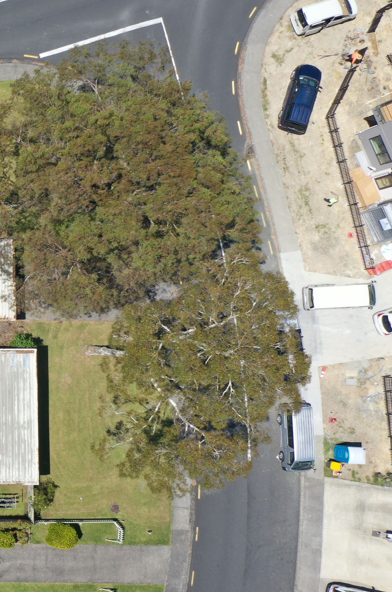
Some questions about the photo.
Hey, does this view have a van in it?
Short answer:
Yes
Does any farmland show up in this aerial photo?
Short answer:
No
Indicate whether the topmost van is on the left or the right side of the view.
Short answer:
right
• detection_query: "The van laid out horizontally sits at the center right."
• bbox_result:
[304,279,379,310]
